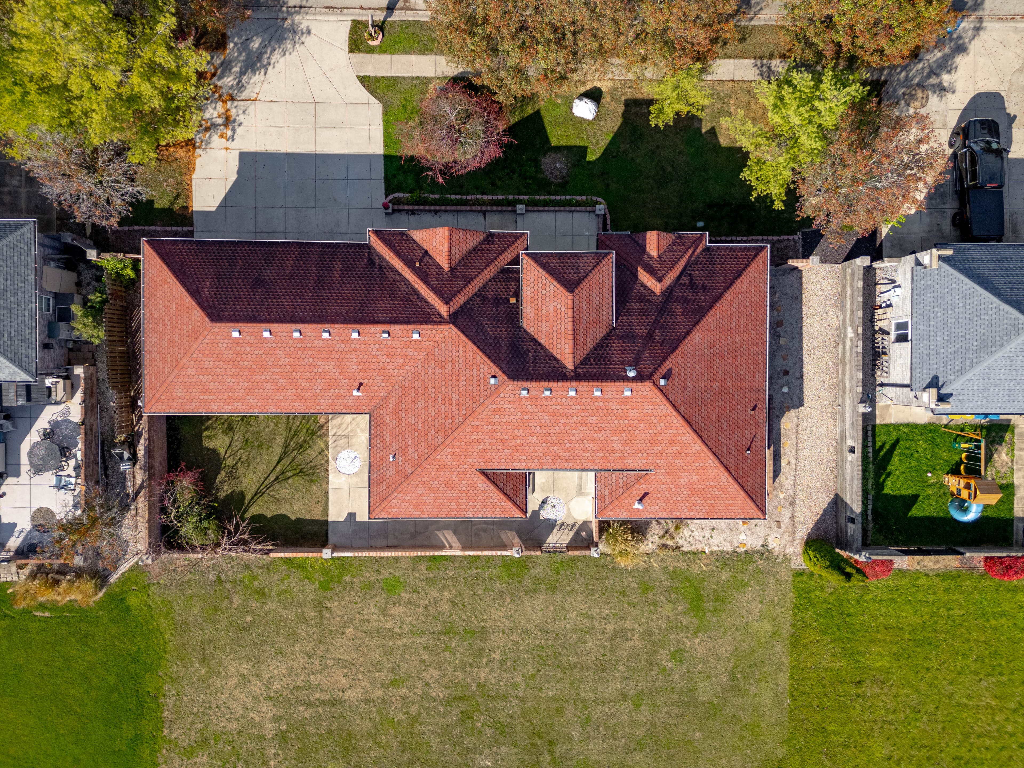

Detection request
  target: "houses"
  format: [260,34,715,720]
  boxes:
[140,225,770,521]
[0,217,68,384]
[884,241,1024,417]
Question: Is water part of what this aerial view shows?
No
